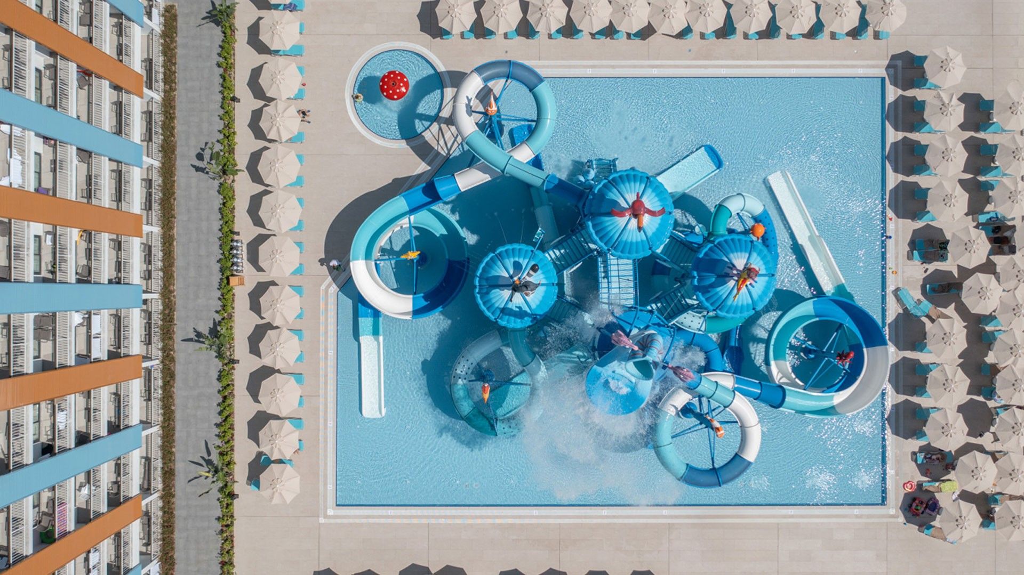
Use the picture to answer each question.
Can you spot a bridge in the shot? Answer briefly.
Yes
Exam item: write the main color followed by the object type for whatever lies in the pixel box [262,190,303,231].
white umbrella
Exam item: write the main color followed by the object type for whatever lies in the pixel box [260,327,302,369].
white umbrella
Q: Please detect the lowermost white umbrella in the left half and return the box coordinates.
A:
[259,461,302,504]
